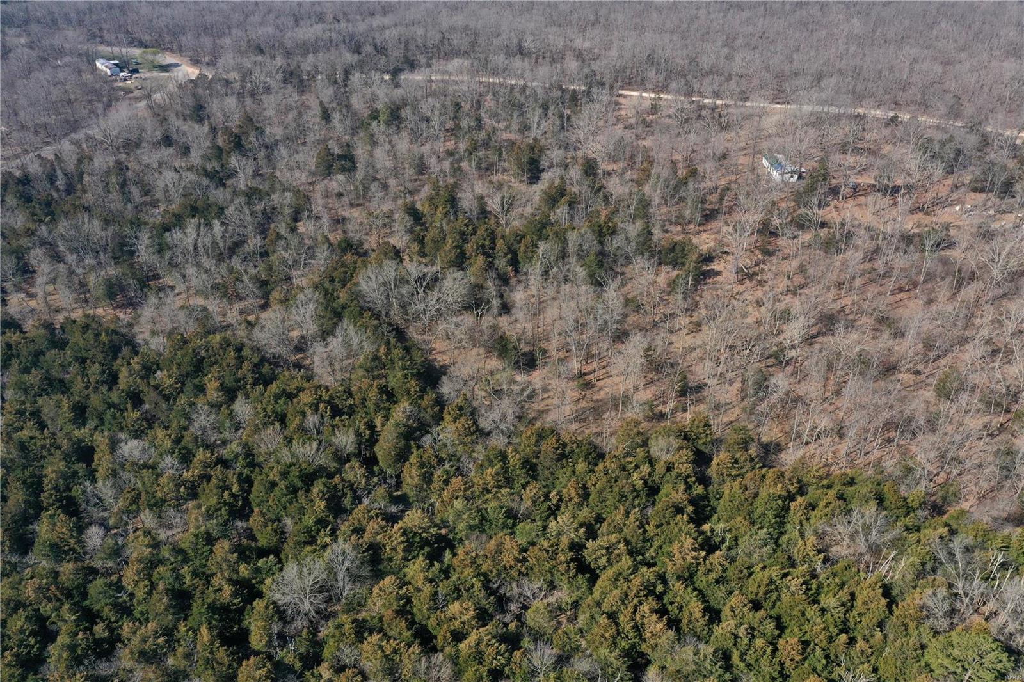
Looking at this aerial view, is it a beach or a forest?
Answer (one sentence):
The area seen from above is a forest.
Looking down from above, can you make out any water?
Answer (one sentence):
No, no water is visible.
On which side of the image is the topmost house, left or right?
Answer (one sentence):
The topmost house sits on the left side.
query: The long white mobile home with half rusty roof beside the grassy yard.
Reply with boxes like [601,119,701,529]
[95,54,121,74]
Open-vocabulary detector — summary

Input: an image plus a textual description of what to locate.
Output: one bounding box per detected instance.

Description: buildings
[95,54,121,74]
[761,157,798,185]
